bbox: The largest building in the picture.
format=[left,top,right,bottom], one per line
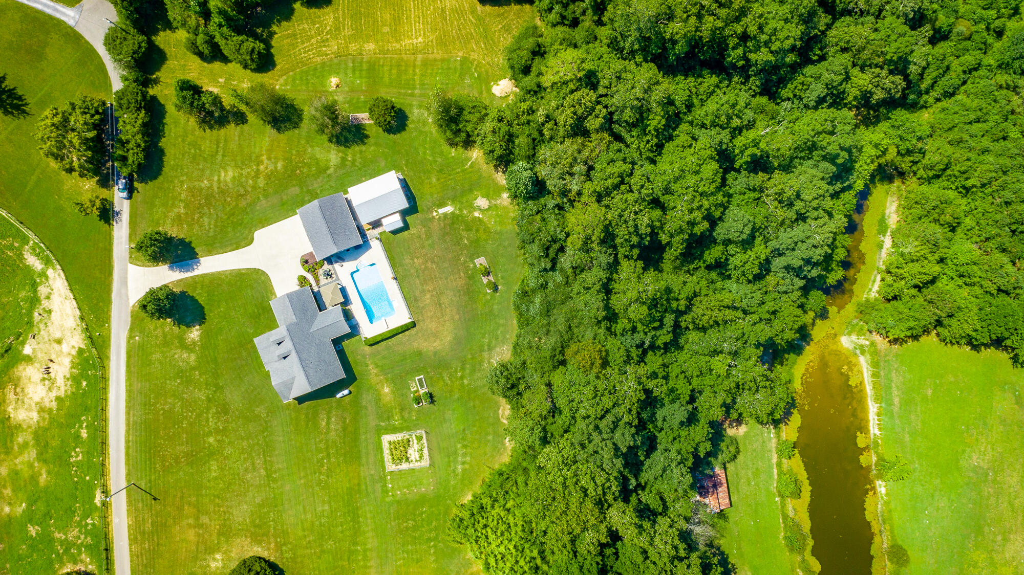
[253,285,352,403]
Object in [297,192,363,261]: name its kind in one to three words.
building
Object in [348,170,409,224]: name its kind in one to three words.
barn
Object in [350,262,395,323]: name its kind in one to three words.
swimming pool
